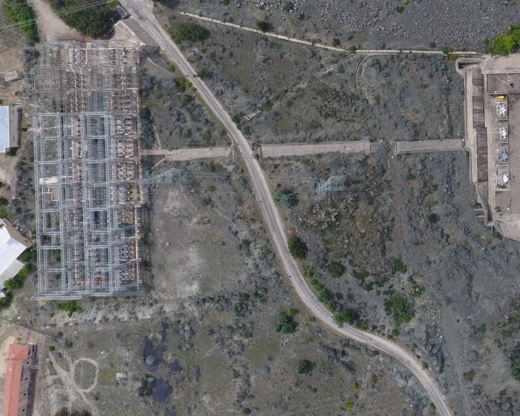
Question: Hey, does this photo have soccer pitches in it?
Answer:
No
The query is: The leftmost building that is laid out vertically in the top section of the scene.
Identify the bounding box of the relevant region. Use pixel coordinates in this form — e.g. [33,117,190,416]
[0,106,20,152]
